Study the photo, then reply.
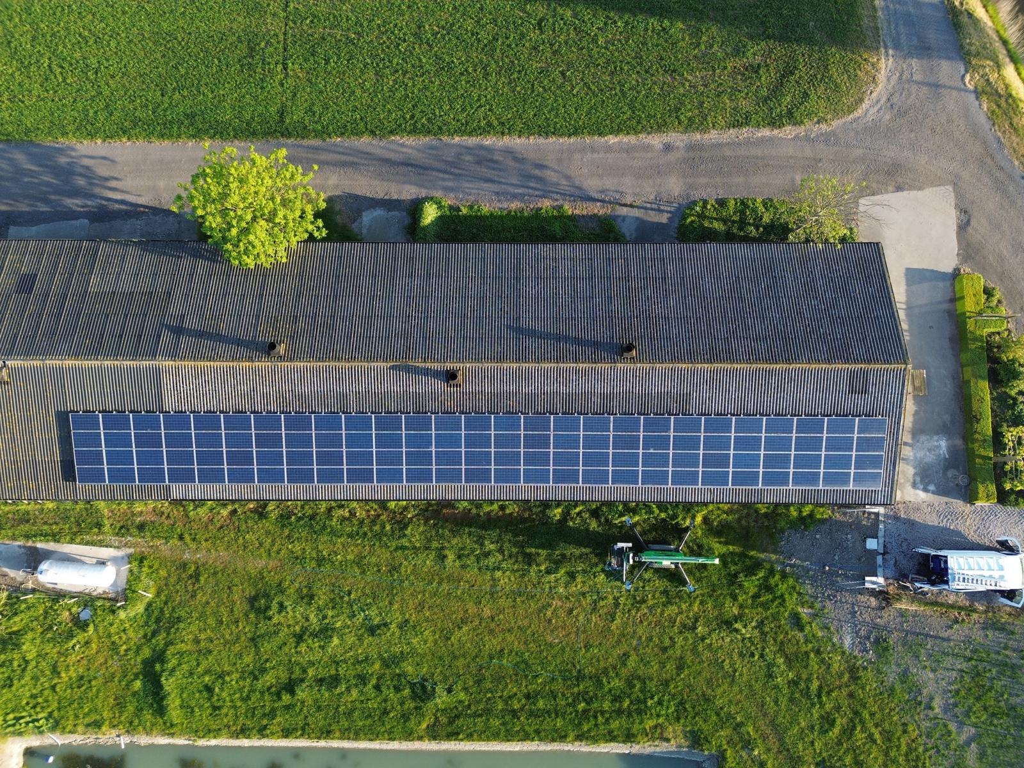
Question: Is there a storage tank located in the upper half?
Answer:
No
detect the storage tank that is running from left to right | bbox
[24,560,117,589]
